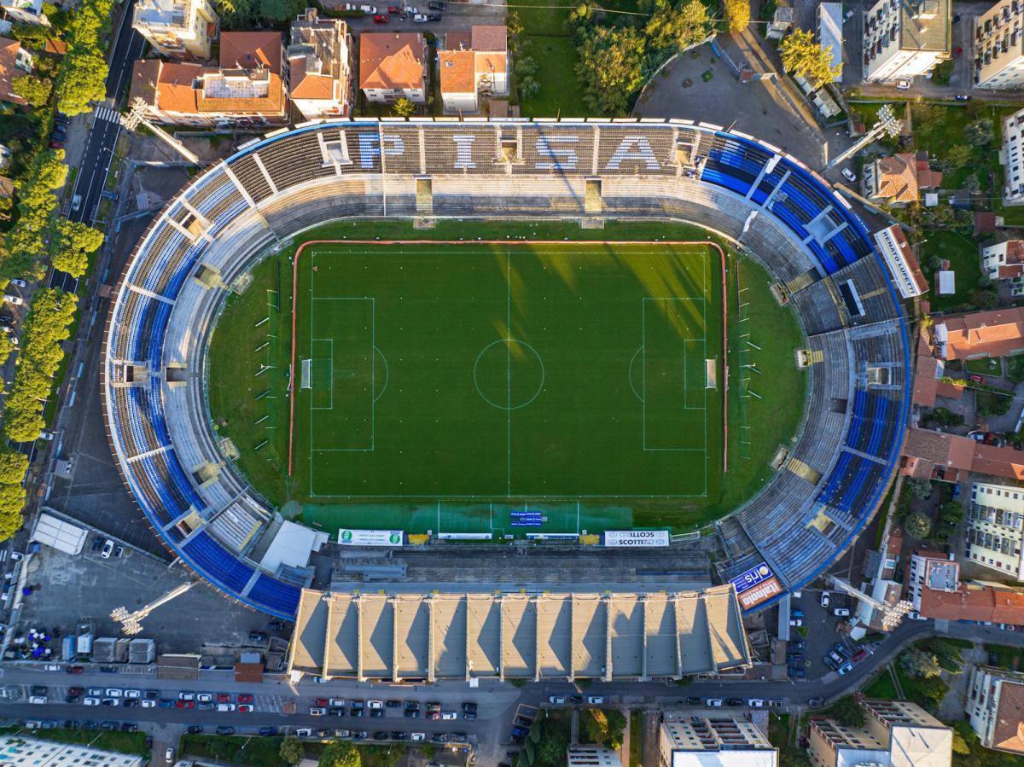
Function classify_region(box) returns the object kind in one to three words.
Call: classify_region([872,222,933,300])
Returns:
building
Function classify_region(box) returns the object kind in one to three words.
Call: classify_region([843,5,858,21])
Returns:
vehicle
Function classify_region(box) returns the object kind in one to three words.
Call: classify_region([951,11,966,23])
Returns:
vehicle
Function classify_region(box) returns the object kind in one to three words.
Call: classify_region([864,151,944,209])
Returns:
house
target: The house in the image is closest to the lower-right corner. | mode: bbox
[957,658,1024,754]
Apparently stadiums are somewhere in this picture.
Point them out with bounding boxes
[92,114,916,688]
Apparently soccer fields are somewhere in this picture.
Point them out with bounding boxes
[203,217,810,546]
